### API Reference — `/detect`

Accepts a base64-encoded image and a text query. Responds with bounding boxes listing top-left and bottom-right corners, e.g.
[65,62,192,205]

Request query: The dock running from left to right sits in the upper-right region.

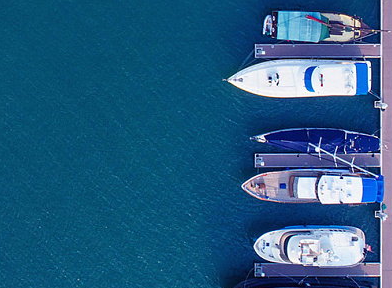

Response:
[254,43,380,58]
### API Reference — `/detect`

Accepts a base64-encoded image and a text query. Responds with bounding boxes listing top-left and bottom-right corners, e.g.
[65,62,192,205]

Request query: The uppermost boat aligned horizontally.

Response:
[267,10,390,44]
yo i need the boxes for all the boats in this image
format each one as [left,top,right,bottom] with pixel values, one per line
[250,125,379,181]
[225,57,372,99]
[262,14,270,38]
[252,222,375,268]
[267,10,390,44]
[240,165,383,205]
[231,276,376,288]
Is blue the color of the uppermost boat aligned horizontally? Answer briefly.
Yes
